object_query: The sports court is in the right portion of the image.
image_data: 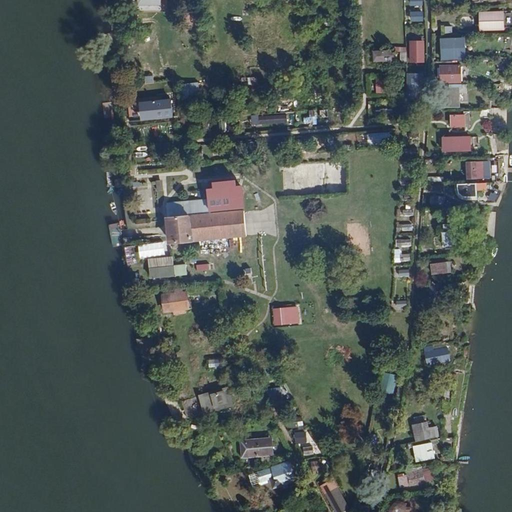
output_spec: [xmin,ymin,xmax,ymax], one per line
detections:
[282,163,347,196]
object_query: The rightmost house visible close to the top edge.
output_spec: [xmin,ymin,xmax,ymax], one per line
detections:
[478,11,506,32]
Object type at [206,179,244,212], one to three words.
building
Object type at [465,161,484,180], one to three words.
house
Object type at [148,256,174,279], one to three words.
shed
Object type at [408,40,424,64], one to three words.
house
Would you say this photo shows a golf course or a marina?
marina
